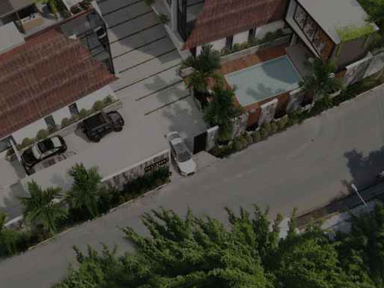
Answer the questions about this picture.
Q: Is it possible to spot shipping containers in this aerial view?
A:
No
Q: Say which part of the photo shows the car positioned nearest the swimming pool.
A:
center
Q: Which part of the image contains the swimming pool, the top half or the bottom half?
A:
top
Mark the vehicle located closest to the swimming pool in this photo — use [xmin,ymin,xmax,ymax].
[166,124,203,178]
